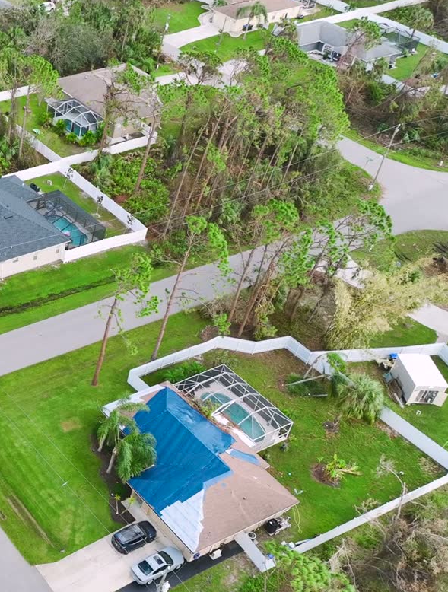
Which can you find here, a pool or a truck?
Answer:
pool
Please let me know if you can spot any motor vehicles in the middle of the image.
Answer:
No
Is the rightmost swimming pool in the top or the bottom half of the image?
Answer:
bottom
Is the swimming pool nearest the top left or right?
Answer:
left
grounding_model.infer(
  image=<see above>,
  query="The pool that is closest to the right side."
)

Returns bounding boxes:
[184,380,283,454]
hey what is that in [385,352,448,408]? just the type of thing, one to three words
shed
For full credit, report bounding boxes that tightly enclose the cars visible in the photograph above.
[124,549,188,585]
[102,519,160,558]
